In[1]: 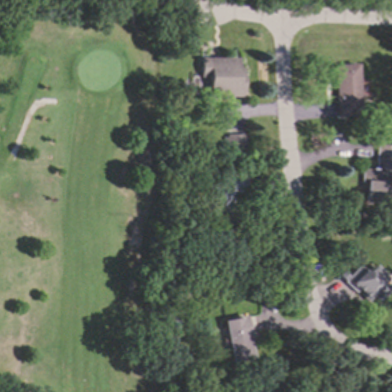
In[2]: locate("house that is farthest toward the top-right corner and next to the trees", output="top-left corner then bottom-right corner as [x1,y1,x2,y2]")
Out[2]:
[340,63,366,100]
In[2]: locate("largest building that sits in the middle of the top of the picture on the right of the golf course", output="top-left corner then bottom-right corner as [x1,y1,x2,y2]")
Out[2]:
[204,56,249,96]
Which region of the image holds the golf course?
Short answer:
left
